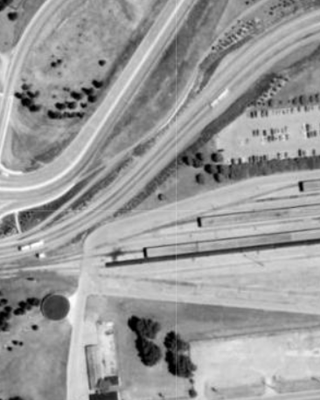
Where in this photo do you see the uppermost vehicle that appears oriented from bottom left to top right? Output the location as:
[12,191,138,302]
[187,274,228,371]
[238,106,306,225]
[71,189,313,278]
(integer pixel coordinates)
[211,90,229,107]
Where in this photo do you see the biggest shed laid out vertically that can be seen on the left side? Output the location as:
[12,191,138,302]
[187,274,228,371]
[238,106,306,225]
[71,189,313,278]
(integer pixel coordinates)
[97,320,116,379]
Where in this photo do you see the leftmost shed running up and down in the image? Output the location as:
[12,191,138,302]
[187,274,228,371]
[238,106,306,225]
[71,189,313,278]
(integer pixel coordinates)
[86,346,99,391]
